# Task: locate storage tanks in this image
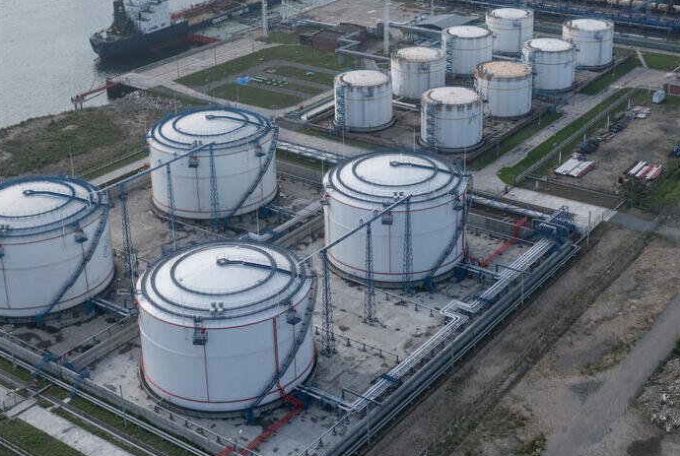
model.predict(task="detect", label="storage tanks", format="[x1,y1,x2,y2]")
[0,147,121,323]
[491,8,537,58]
[127,216,320,419]
[142,88,282,224]
[480,60,538,122]
[423,87,491,155]
[570,21,620,74]
[335,70,398,135]
[528,38,582,95]
[317,128,472,287]
[395,45,448,103]
[447,27,499,80]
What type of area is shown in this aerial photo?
industrial area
